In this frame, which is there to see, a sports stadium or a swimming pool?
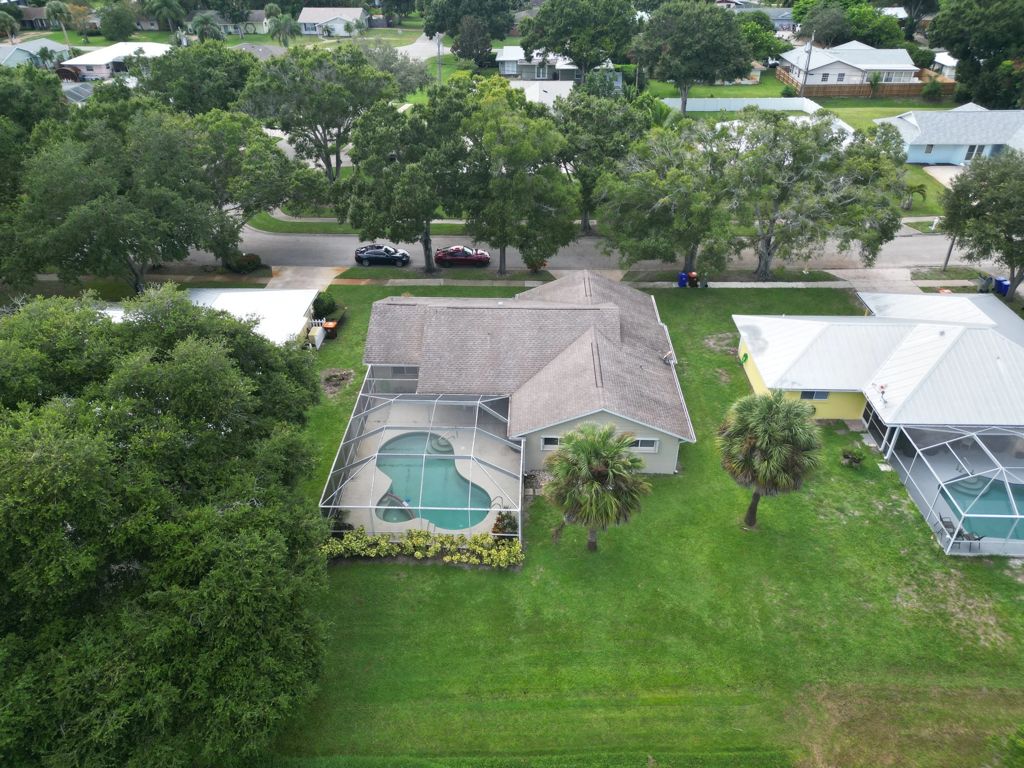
swimming pool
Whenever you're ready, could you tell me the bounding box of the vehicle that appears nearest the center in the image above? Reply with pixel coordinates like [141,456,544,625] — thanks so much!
[433,244,493,267]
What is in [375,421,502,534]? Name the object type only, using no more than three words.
swimming pool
